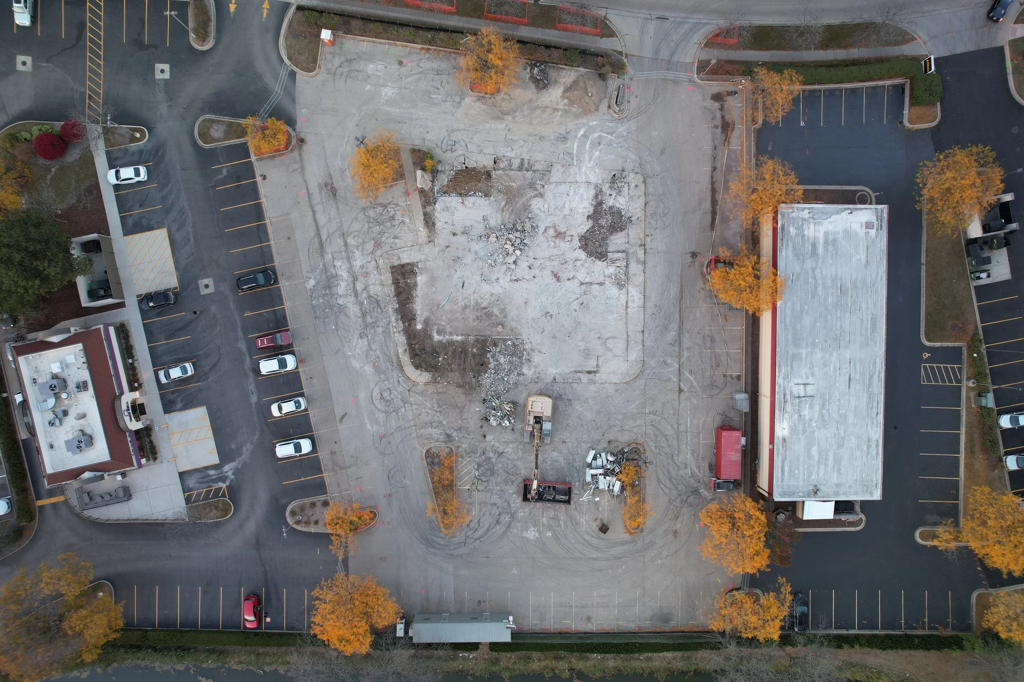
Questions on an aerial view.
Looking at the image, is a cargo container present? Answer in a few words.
Yes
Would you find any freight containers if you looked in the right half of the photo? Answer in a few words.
Yes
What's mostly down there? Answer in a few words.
paved ground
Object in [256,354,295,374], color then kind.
white car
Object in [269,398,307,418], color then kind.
white car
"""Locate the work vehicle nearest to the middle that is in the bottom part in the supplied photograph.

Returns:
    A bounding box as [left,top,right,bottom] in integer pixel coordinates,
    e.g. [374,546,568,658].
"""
[524,400,552,504]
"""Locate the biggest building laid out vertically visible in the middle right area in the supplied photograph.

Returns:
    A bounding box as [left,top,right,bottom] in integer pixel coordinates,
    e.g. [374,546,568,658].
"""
[753,201,889,501]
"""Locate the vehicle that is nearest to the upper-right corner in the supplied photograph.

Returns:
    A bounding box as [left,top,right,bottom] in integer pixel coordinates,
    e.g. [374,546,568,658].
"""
[987,0,1014,24]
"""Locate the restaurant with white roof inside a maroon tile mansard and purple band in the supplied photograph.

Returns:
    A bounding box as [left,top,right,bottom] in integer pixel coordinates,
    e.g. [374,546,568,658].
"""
[15,325,149,485]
